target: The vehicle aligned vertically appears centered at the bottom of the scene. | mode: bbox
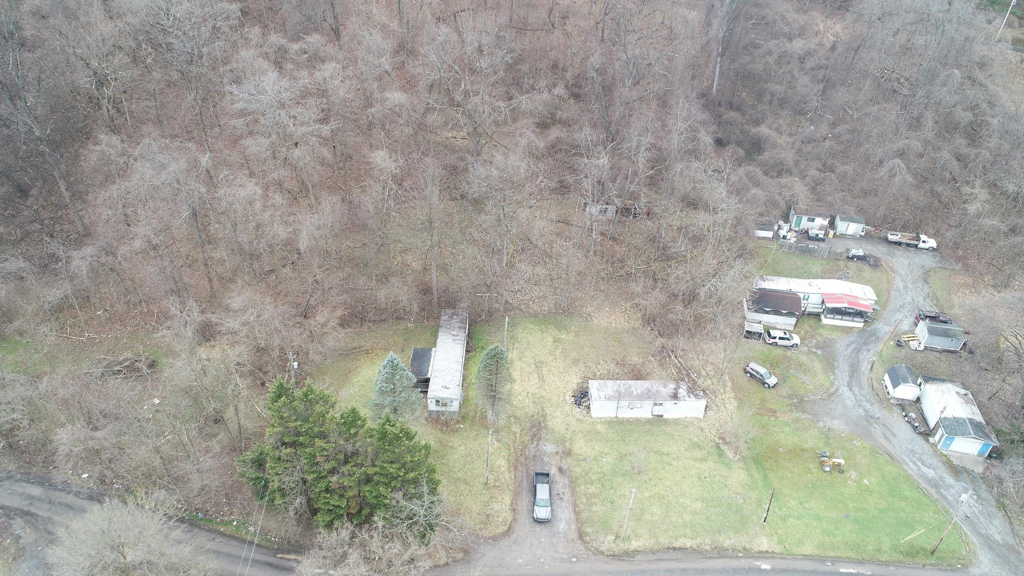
[532,473,554,523]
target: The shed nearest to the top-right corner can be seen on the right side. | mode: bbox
[835,213,866,241]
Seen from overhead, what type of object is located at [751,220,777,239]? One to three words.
shed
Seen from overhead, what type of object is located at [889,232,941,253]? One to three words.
truck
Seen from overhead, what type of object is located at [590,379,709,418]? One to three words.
house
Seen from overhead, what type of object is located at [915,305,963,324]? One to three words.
vehicle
